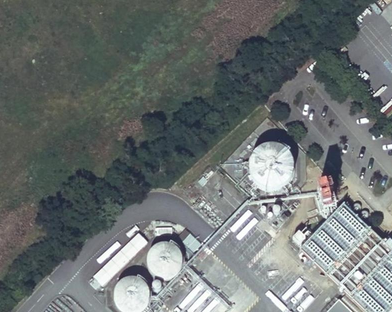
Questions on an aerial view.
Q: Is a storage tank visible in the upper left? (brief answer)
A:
No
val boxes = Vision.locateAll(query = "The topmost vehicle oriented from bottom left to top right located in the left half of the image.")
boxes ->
[124,226,140,241]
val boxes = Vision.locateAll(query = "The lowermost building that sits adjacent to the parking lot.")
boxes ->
[301,202,392,312]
